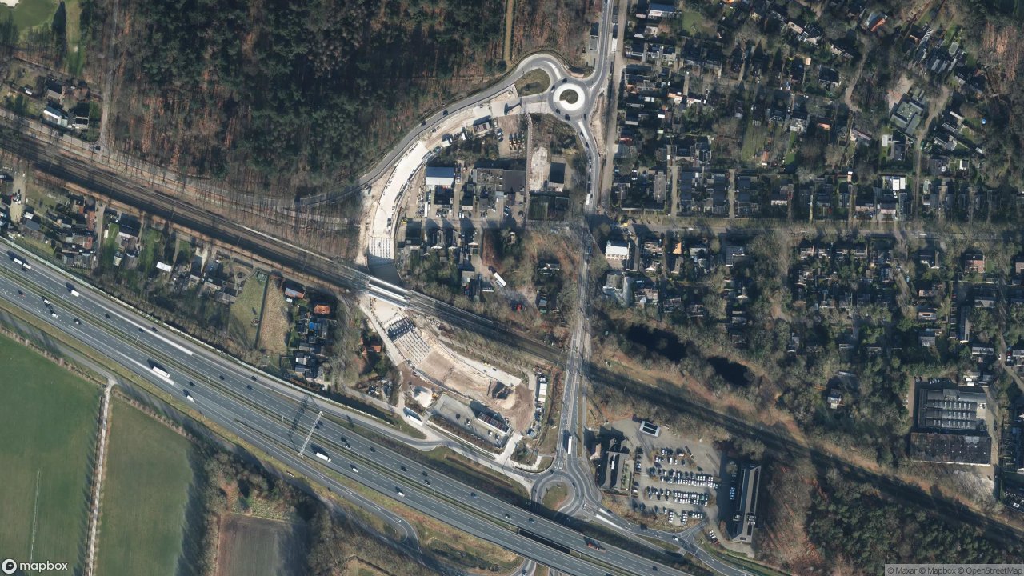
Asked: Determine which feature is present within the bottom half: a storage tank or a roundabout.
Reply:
roundabout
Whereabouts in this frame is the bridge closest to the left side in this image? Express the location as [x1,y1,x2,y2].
[365,275,409,311]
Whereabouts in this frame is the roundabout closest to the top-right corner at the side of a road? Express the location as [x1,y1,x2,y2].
[548,76,590,118]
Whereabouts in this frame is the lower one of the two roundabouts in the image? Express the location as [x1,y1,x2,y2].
[532,469,581,520]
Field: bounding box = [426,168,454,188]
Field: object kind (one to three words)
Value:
building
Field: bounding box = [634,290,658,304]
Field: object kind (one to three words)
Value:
house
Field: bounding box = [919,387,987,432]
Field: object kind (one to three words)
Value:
building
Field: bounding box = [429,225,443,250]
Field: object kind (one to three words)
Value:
house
